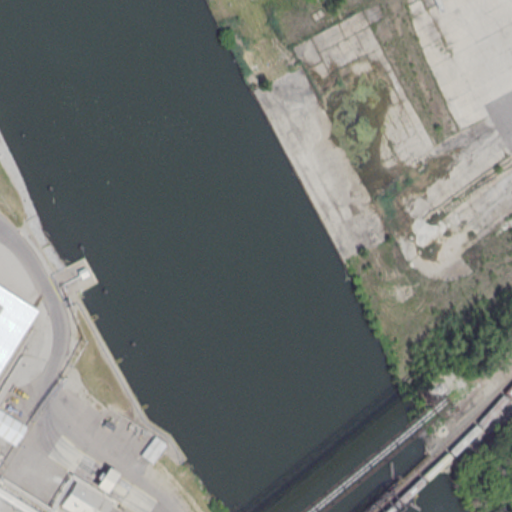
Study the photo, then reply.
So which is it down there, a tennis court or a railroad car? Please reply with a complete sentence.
This aerial view contains a railroad car.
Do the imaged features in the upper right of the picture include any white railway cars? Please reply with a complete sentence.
No, there's no white railway car to be seen in the upper right of the picture.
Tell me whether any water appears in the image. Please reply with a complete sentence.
Yes, there is water in the image.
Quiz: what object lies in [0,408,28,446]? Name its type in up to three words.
shed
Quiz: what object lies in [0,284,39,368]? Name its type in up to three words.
building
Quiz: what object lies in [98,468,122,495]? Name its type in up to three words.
building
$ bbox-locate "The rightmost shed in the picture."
[140,436,168,466]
